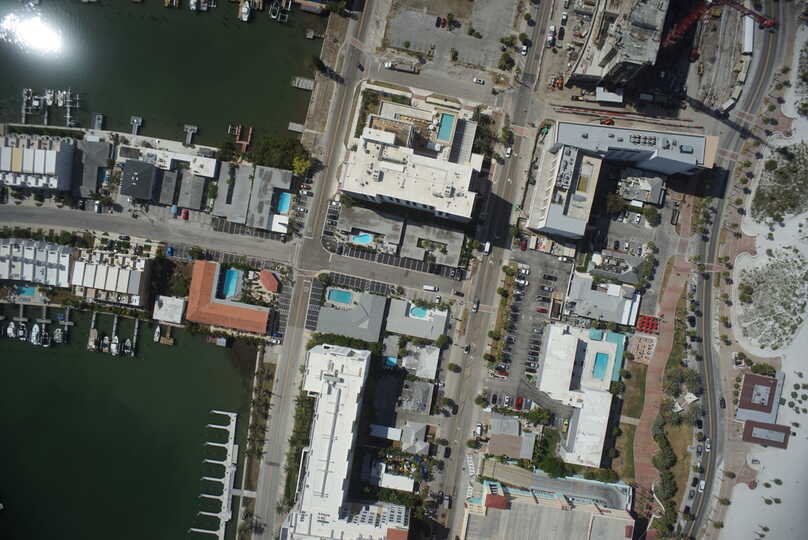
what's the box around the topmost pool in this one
[437,112,456,143]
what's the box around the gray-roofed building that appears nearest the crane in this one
[600,0,669,88]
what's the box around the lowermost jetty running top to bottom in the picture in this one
[186,409,239,540]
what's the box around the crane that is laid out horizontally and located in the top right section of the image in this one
[656,0,779,55]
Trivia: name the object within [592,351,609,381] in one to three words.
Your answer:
swimming pool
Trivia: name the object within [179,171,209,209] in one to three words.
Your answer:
house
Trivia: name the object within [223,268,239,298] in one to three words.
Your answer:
swimming pool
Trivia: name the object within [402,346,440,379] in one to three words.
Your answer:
building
